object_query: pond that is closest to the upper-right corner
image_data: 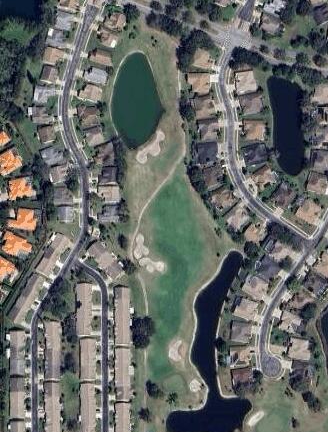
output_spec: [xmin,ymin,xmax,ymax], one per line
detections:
[266,76,306,175]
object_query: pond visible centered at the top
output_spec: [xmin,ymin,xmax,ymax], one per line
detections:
[111,51,163,148]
